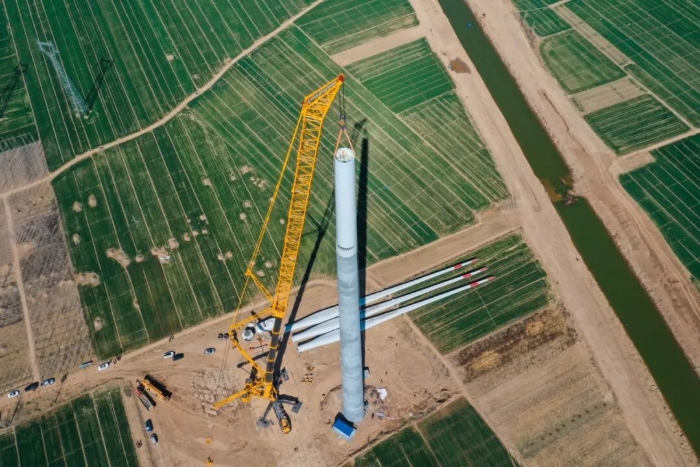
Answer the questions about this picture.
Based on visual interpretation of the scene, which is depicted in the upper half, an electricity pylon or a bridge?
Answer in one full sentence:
Looking in the upper half, you will find an electricity pylon.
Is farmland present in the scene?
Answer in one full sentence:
Yes, farmland shows up in the scene.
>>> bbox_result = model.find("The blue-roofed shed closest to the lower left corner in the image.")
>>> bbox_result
[331,418,355,443]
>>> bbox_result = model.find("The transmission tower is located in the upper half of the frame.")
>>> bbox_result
[33,38,92,117]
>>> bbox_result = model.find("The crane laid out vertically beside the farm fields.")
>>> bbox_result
[208,75,347,433]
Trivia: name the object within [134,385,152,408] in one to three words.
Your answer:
vehicle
